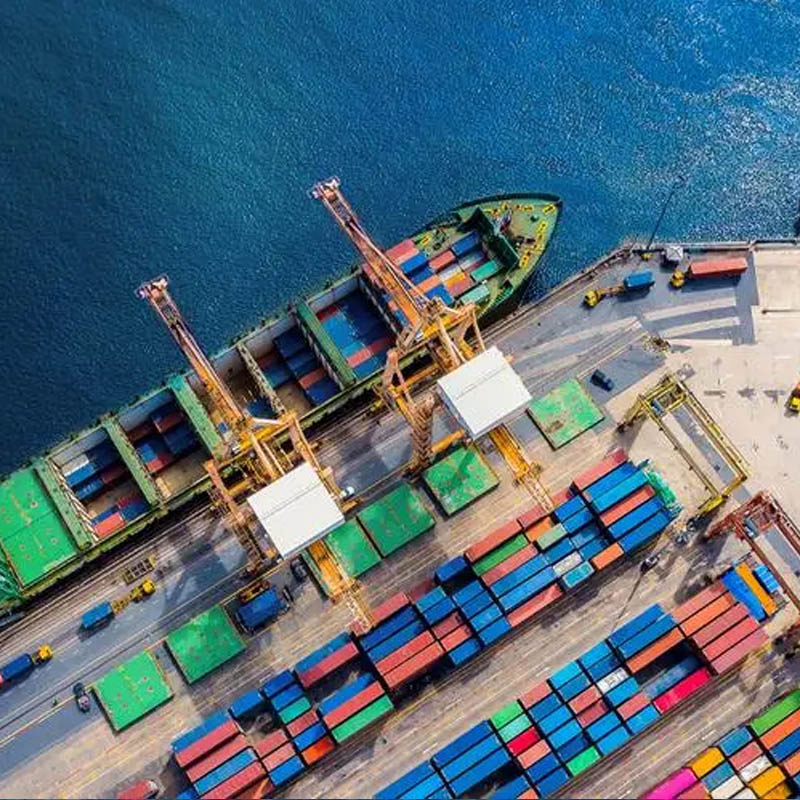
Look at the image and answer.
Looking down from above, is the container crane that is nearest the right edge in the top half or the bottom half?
bottom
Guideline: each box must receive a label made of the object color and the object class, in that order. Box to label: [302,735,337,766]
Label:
red shipping container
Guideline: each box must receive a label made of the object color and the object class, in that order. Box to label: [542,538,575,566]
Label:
blue shipping container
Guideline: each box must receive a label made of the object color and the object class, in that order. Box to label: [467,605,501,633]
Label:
blue shipping container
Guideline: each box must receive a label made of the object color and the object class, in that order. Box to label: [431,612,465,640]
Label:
red shipping container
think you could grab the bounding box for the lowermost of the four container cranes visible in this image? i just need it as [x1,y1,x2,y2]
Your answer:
[691,491,800,646]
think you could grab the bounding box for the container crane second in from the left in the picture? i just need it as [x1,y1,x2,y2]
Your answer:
[313,177,565,518]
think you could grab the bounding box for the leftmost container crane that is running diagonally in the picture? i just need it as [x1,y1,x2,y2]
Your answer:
[137,273,377,641]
